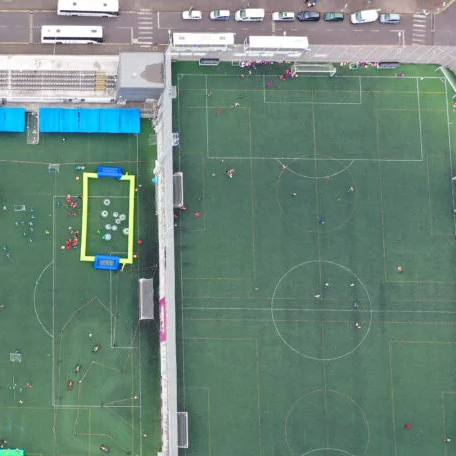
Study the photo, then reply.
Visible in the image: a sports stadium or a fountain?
sports stadium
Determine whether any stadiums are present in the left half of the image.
Yes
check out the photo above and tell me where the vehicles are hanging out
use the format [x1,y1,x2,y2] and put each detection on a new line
[236,8,264,22]
[208,9,230,21]
[182,10,202,21]
[348,9,378,24]
[40,26,105,45]
[242,36,310,55]
[296,9,321,22]
[381,12,403,24]
[170,33,236,52]
[56,0,121,18]
[272,10,294,22]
